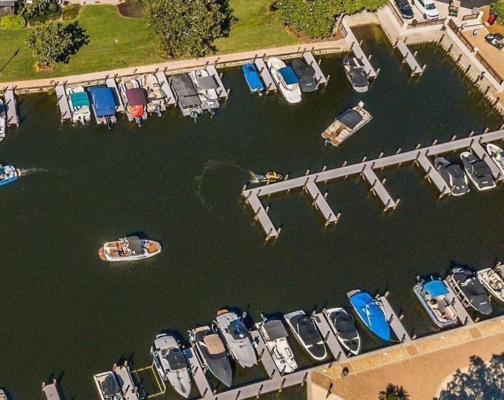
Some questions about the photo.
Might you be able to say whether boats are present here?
Yes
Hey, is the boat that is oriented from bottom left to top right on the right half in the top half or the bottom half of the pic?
top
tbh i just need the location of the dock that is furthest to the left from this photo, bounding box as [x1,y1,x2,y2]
[3,87,20,129]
